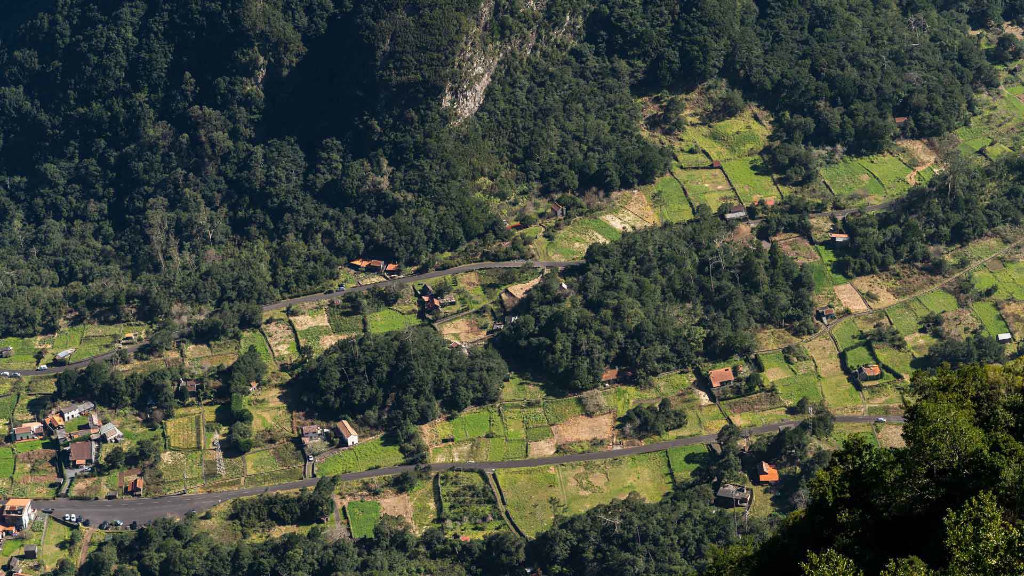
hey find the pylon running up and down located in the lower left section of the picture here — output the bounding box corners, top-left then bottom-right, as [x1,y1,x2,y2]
[211,432,226,479]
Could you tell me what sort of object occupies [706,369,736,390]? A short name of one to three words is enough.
house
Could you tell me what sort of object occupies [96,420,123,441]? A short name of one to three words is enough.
house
